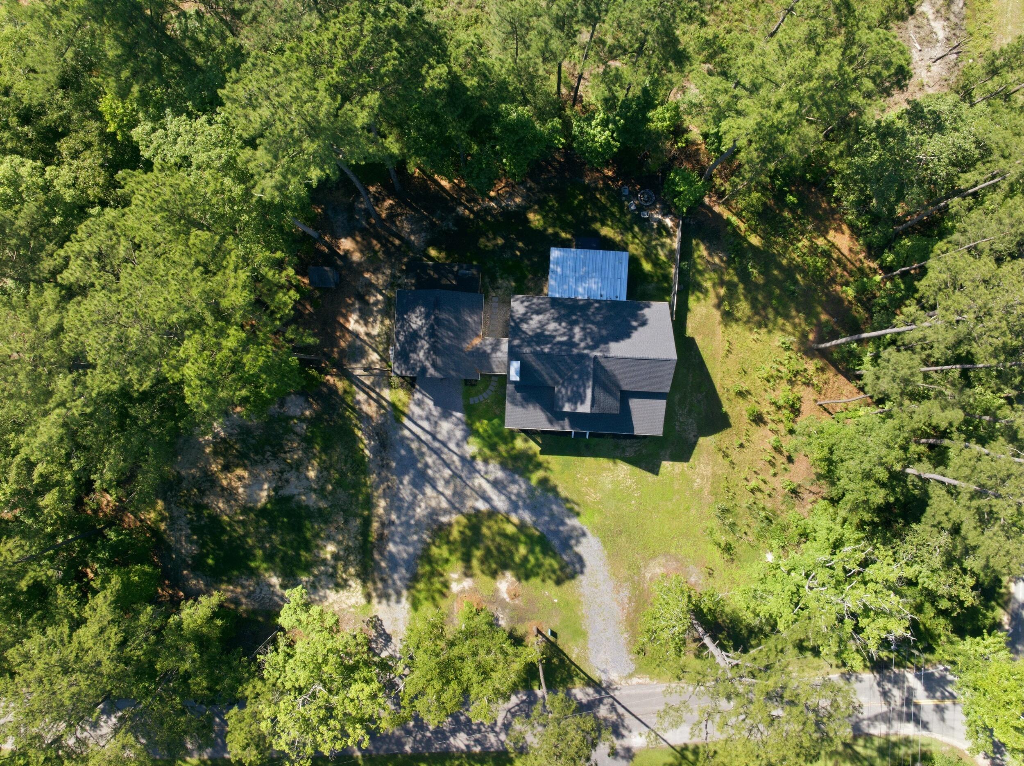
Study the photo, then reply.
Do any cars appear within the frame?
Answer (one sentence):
No, no car can be seen from above.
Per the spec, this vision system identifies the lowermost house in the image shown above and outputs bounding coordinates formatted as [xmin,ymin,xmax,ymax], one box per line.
[392,287,677,439]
